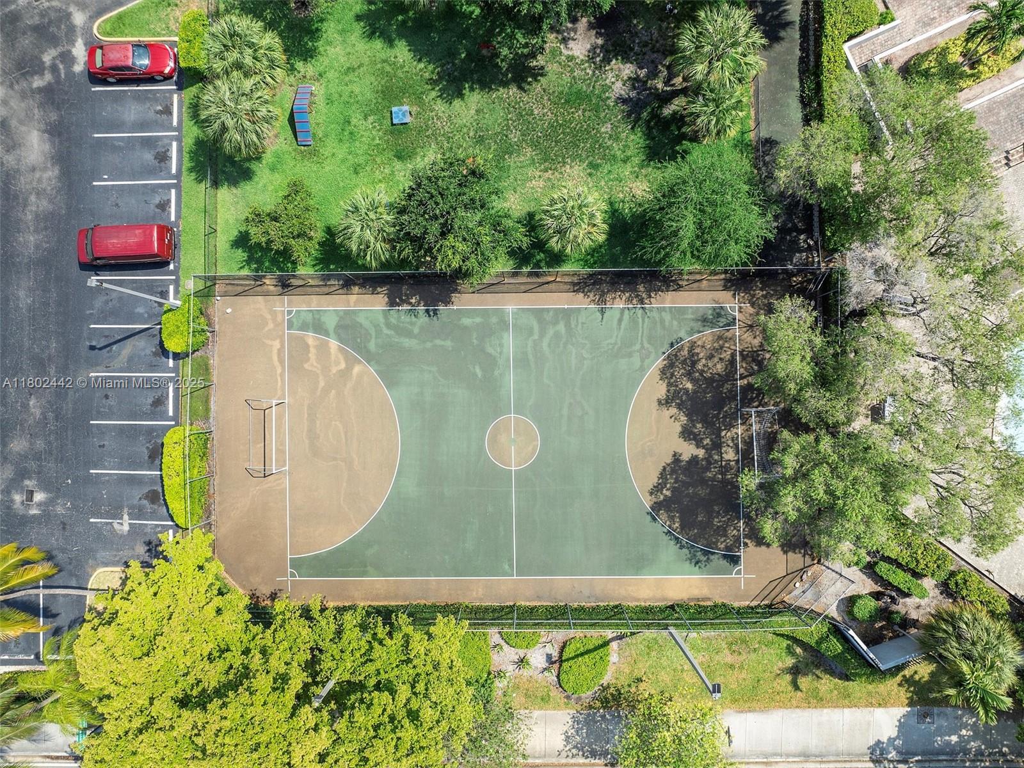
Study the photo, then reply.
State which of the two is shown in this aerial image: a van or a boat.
van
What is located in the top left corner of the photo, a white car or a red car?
red car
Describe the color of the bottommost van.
red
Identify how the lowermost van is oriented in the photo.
from left to right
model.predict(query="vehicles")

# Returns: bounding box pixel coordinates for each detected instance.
[89,41,178,84]
[77,223,179,269]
